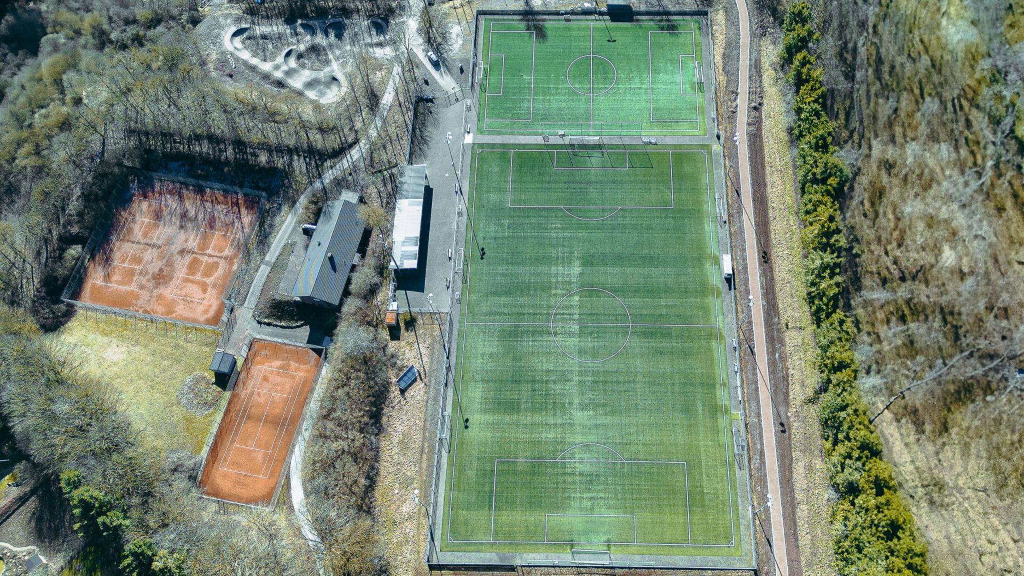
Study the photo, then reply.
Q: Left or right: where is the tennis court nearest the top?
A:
left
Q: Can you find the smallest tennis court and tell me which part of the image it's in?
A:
bottom left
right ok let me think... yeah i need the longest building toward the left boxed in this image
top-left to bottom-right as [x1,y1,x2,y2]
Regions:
[291,194,373,309]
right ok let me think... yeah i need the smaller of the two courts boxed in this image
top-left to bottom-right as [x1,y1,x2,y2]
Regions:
[199,336,323,508]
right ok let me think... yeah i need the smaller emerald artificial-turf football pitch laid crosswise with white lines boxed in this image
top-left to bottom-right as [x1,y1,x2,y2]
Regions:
[477,18,707,136]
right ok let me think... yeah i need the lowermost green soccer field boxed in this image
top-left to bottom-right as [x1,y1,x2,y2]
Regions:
[440,144,742,557]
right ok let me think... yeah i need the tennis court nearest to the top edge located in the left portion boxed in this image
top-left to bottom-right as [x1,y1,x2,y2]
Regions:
[66,170,265,328]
